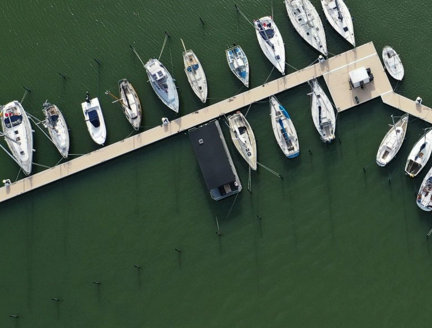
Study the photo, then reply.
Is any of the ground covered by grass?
No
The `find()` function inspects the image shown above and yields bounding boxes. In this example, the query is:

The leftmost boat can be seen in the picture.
[0,90,46,181]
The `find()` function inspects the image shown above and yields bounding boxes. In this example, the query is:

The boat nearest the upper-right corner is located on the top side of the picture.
[384,45,403,83]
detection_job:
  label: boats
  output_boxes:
[283,0,331,63]
[25,97,86,160]
[261,89,300,160]
[0,90,46,181]
[377,112,418,167]
[132,33,180,117]
[81,96,109,149]
[417,170,432,212]
[184,116,243,234]
[180,37,213,108]
[309,80,337,145]
[235,6,295,84]
[104,78,152,132]
[384,45,403,83]
[407,128,432,178]
[225,44,252,98]
[224,106,281,190]
[319,0,357,51]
